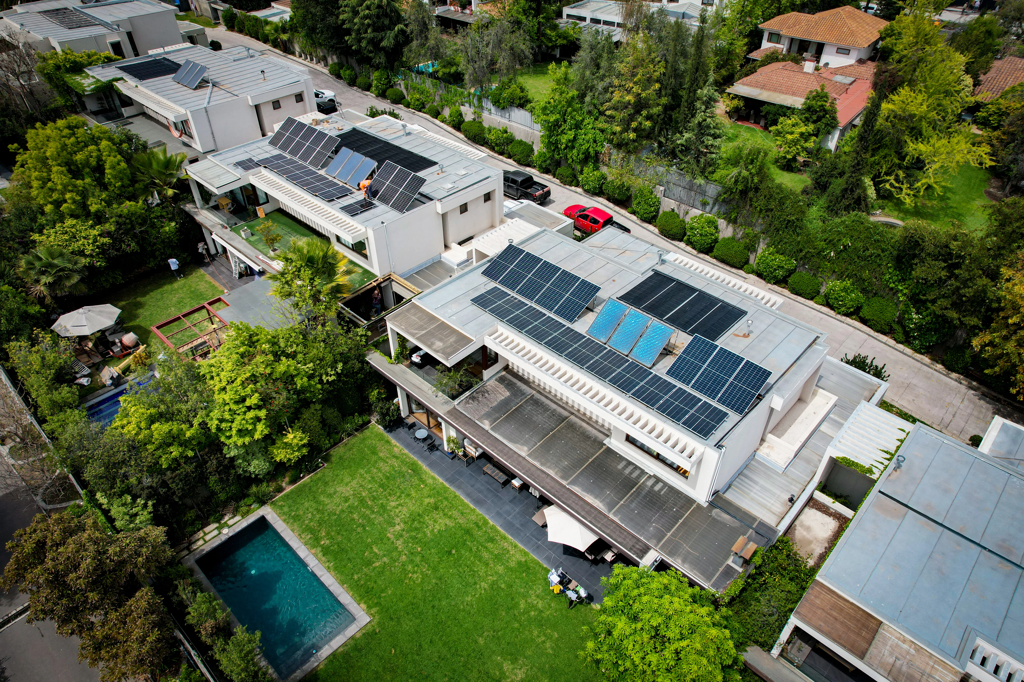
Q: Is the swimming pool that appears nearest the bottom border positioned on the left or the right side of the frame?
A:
left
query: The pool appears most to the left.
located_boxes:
[64,360,216,485]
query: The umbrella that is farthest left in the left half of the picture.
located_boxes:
[52,300,122,355]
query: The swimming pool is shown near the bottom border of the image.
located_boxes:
[180,504,372,682]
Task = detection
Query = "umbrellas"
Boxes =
[531,493,543,514]
[538,507,595,559]
[52,300,122,355]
